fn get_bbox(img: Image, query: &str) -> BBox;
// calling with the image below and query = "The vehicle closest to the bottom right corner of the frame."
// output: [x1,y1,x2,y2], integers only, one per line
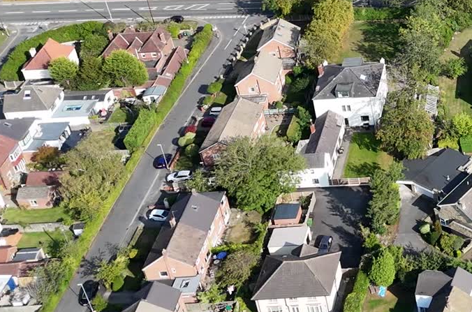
[318,230,333,248]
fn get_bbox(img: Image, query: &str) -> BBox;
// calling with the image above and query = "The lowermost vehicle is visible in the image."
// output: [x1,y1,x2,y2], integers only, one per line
[78,280,98,305]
